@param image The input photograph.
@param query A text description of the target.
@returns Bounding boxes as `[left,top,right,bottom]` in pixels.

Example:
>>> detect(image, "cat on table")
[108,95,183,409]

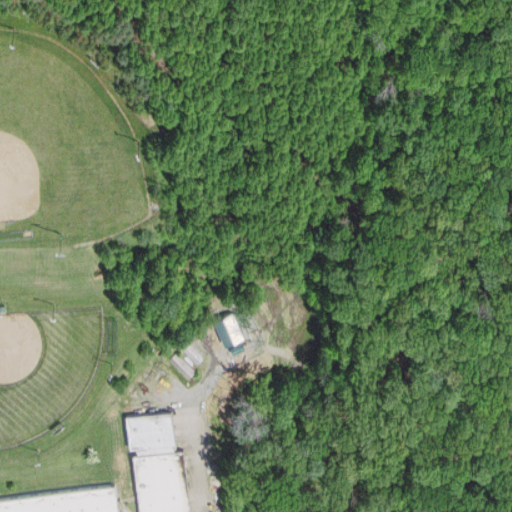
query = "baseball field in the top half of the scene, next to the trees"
[0,28,152,248]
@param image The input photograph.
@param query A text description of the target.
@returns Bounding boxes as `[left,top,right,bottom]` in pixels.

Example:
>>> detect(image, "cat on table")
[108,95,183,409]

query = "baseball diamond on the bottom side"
[0,307,104,449]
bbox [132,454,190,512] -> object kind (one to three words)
building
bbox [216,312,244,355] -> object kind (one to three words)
house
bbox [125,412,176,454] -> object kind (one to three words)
building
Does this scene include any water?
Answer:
No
